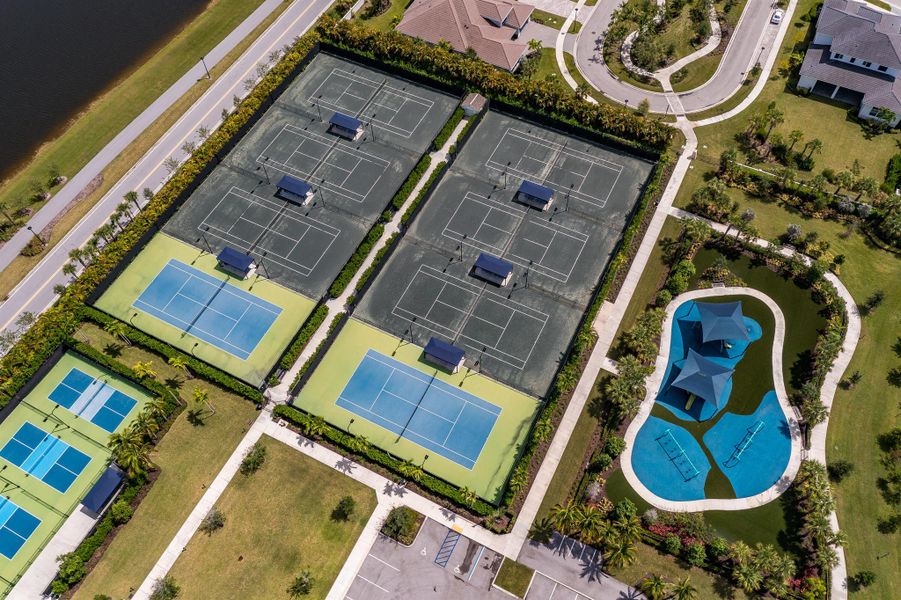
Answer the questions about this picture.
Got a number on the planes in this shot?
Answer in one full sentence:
I count no planes.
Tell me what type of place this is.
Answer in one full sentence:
It's a sports ground.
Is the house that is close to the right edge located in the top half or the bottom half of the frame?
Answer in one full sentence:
It is in the top half that the house that is close to the right edge appears.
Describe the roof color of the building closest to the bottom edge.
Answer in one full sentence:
The roof over the building closest to the bottom edge appears blue.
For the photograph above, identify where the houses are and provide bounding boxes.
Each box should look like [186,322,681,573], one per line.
[392,0,538,75]
[798,0,901,127]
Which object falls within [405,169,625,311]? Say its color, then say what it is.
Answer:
gray tennis court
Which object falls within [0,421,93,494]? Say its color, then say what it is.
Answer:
blue sports court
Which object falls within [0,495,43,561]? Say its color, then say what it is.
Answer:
blue sports court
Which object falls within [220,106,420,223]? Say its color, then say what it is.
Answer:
gray tennis court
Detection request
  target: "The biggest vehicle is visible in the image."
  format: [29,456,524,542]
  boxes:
[772,6,785,21]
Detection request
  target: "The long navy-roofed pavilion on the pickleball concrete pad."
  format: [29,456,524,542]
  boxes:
[79,465,127,513]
